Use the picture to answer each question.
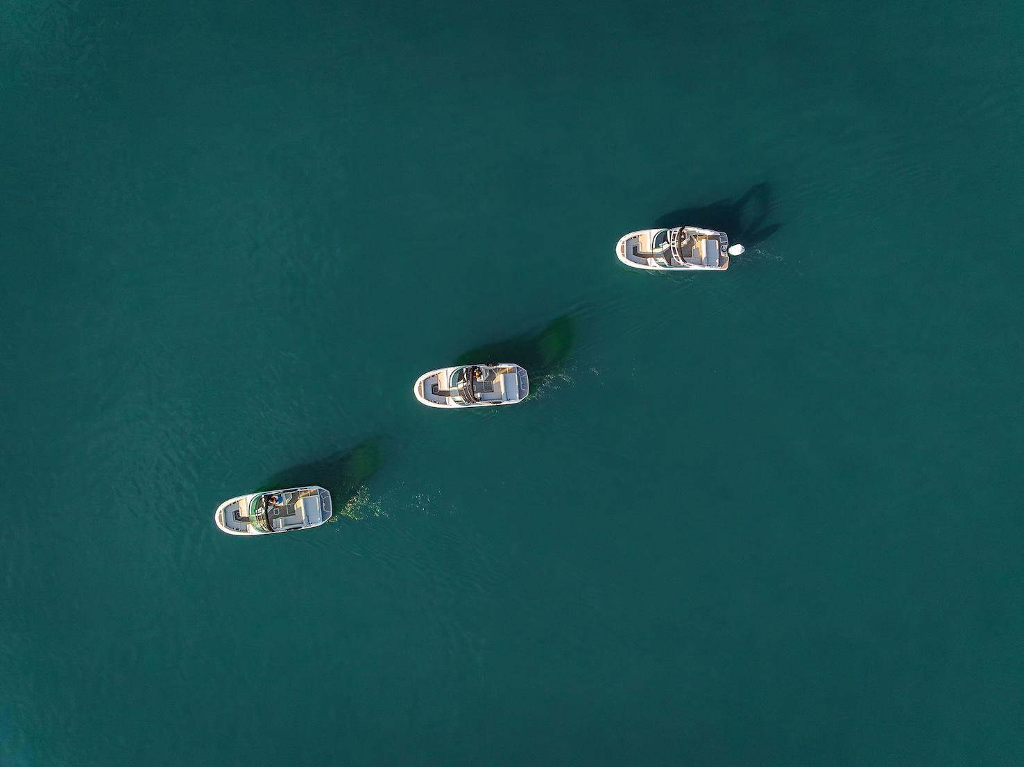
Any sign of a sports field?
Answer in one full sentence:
No, the picture doesn't show any sports field.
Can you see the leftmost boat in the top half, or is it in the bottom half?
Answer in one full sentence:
The bottom half of the photo is where the leftmost boat is.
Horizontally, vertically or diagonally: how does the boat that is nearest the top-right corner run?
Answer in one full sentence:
What the image shows is the boat that is nearest the top-right corner lying horizontally.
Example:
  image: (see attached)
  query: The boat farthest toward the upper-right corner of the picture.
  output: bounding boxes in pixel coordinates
[616,227,745,271]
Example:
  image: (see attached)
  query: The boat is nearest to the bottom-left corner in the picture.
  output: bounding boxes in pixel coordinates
[215,486,332,535]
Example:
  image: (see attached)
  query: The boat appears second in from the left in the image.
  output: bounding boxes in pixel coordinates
[414,358,529,412]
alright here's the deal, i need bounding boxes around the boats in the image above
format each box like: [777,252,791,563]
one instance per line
[414,358,529,412]
[215,486,332,535]
[616,227,745,271]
